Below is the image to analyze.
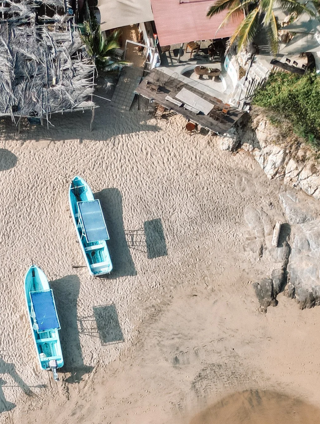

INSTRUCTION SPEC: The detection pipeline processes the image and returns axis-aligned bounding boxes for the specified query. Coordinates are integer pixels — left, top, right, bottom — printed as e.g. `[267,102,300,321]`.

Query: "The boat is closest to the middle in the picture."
[72,177,113,279]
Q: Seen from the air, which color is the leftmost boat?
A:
blue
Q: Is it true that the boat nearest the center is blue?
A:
Yes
